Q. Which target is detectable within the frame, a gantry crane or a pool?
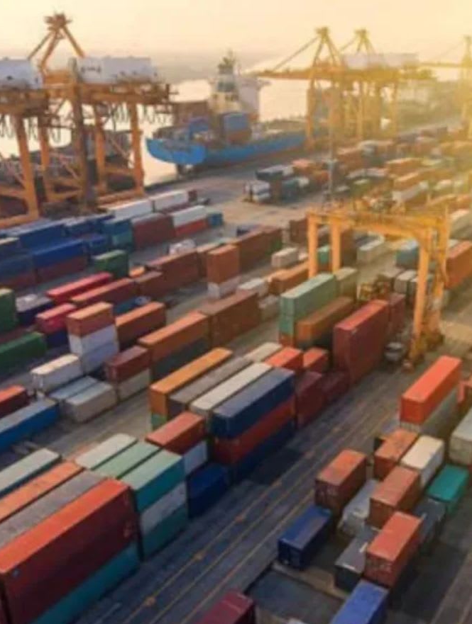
gantry crane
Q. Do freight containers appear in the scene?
Yes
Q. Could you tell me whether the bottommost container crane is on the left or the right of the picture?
right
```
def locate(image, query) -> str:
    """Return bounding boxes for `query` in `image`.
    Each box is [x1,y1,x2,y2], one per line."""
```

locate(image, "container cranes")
[0,54,68,228]
[240,30,407,153]
[306,198,452,366]
[14,8,186,216]
[281,32,440,143]
[429,40,472,122]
